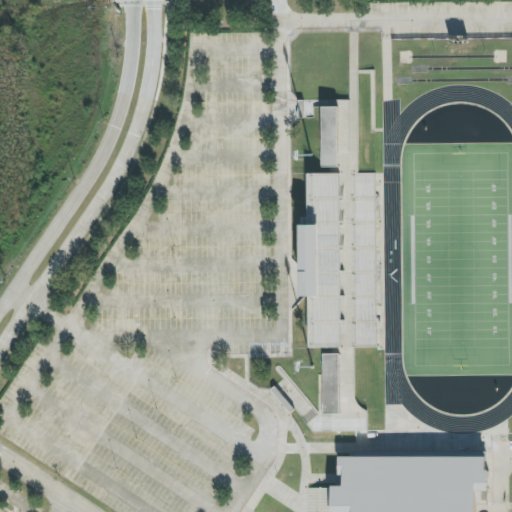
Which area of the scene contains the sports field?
right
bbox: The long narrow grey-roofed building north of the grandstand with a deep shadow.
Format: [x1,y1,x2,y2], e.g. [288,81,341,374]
[320,106,340,167]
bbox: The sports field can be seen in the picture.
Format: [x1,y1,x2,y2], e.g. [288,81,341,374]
[402,142,512,377]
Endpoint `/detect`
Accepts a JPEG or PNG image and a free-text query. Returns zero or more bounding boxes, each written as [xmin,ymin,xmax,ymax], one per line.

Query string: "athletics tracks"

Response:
[384,84,512,434]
